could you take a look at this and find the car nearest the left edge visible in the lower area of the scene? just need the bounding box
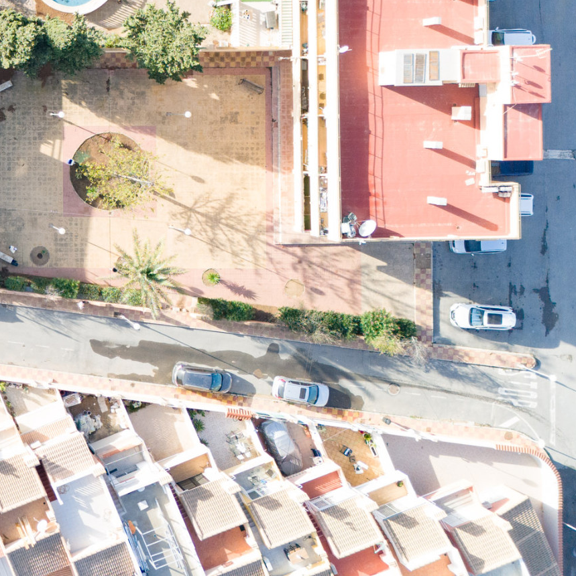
[170,362,233,396]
